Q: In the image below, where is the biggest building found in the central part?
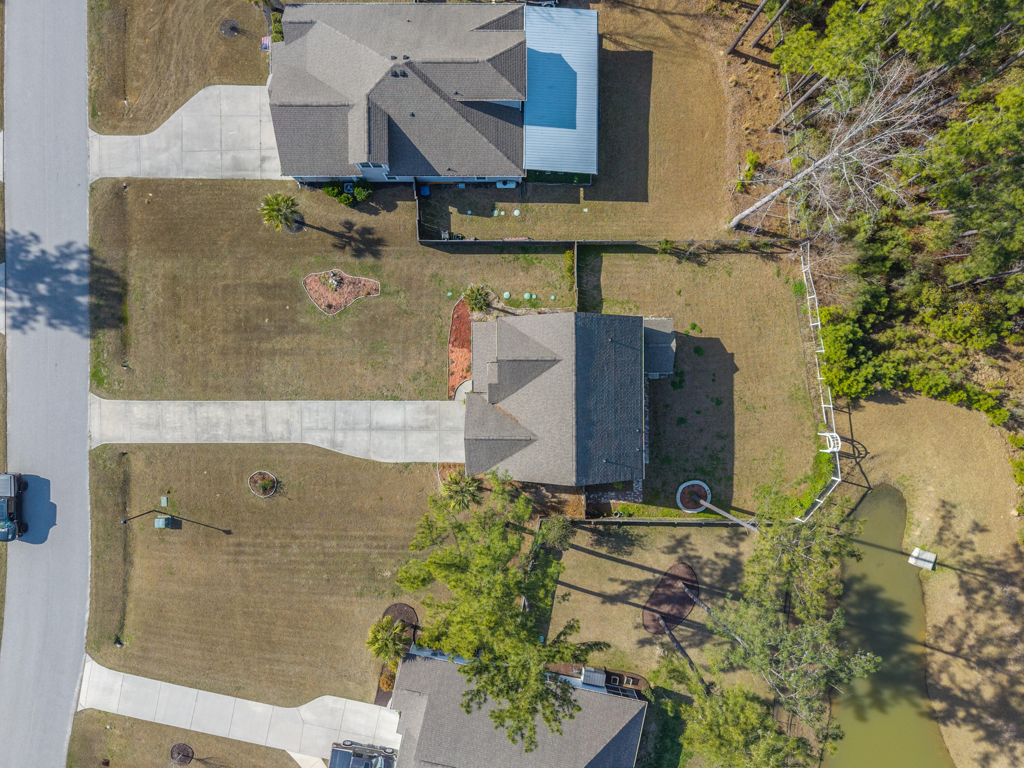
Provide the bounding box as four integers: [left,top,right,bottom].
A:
[465,312,675,485]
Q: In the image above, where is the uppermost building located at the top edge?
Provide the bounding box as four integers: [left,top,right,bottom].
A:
[268,1,599,188]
